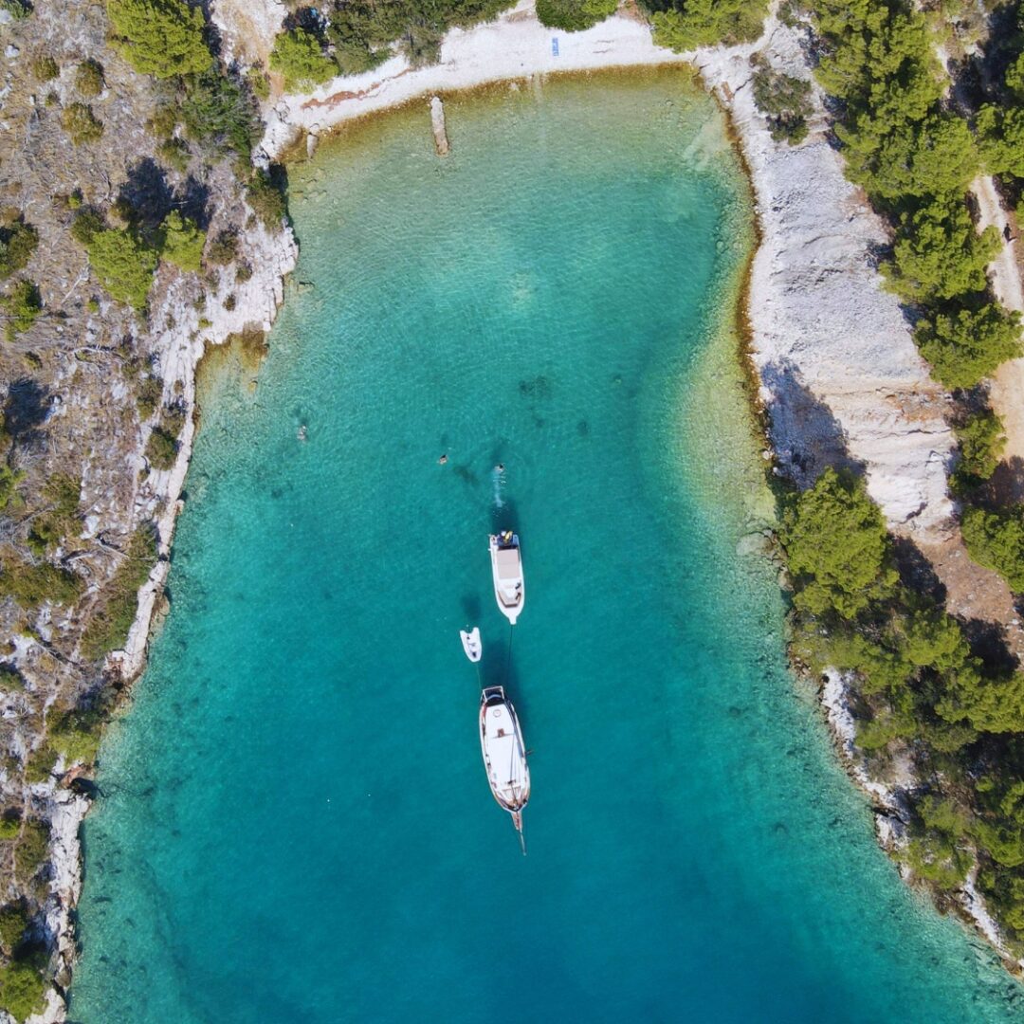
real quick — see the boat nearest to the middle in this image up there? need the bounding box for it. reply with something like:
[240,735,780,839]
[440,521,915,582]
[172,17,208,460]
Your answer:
[486,530,525,625]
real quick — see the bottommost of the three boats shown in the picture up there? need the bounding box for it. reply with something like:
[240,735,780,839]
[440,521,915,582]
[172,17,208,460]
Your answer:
[479,685,533,860]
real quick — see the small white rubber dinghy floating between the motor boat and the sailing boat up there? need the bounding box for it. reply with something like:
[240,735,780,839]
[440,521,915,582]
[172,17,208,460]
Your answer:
[460,628,481,662]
